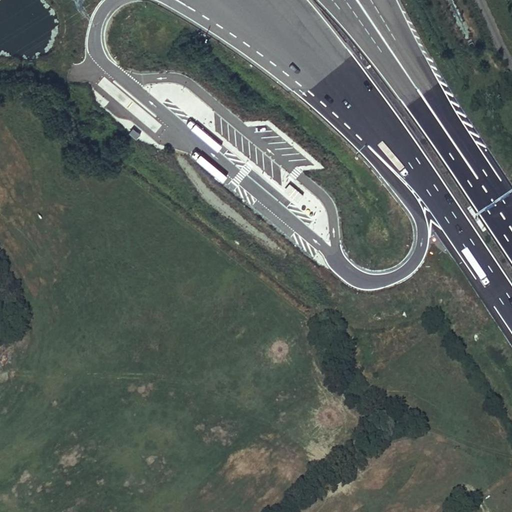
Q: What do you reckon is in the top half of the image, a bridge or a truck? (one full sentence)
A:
It is a truck that can be seen in the top half of the image.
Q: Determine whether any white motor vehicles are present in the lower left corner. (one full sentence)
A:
No, no white motor vehicle is visible in the lower left corner.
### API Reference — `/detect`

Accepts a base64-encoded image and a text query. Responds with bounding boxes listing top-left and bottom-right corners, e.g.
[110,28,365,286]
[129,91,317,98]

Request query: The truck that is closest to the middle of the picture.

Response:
[191,151,227,183]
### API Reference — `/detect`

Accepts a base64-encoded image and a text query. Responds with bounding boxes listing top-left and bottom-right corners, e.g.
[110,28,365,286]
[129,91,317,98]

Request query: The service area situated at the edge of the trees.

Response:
[68,44,352,271]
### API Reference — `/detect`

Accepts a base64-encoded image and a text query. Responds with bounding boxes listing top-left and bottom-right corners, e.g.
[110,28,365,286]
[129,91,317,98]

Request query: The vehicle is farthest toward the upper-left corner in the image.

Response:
[186,120,222,152]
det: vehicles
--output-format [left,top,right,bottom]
[462,247,491,286]
[289,64,300,73]
[186,120,222,152]
[444,192,454,204]
[342,98,352,109]
[378,141,410,176]
[324,94,334,104]
[364,80,373,90]
[255,126,266,132]
[191,151,227,183]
